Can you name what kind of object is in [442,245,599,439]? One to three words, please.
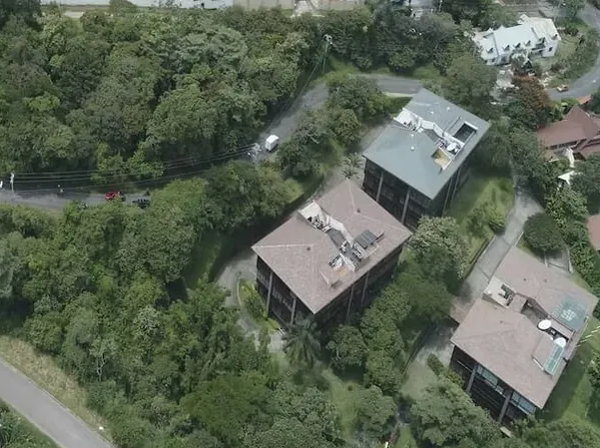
building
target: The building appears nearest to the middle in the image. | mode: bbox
[250,179,413,344]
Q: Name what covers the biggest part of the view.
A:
trees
